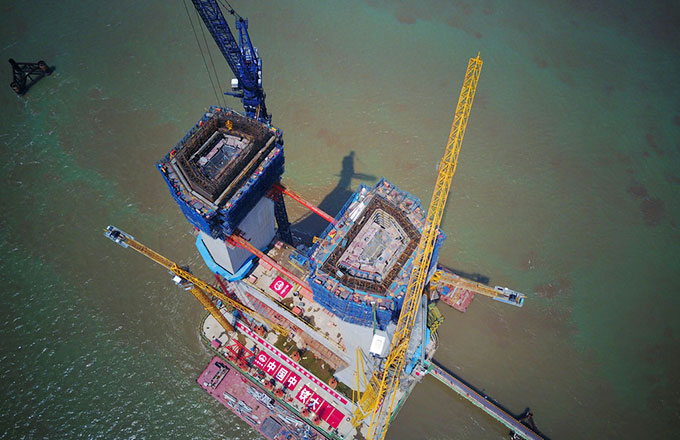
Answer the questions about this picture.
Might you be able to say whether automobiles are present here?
No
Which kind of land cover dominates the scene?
water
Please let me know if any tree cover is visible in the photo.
No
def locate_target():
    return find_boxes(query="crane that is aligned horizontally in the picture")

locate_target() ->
[410,269,531,307]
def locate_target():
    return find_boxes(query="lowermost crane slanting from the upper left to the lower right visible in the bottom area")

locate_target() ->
[96,223,290,338]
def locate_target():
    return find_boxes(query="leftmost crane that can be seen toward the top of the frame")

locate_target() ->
[184,0,292,246]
